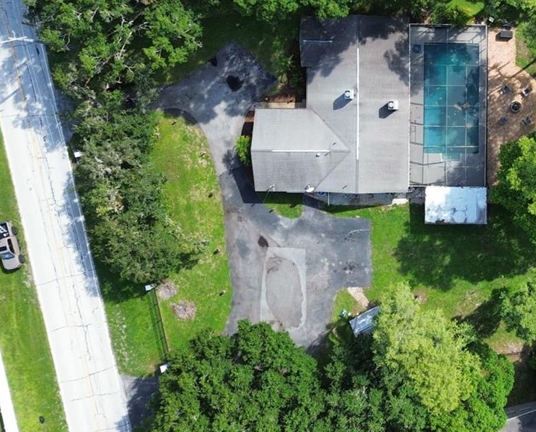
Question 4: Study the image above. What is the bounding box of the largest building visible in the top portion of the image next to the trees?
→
[250,13,411,198]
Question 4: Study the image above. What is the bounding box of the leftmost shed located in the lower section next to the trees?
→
[349,308,376,338]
